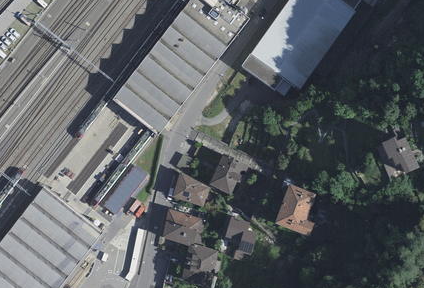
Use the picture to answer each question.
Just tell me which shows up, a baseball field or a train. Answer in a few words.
train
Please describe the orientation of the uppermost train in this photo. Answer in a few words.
at an angle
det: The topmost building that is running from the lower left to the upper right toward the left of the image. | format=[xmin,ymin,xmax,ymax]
[112,9,227,136]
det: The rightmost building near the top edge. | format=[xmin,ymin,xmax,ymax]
[242,0,360,96]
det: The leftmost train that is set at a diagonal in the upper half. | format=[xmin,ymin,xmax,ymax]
[76,84,116,138]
